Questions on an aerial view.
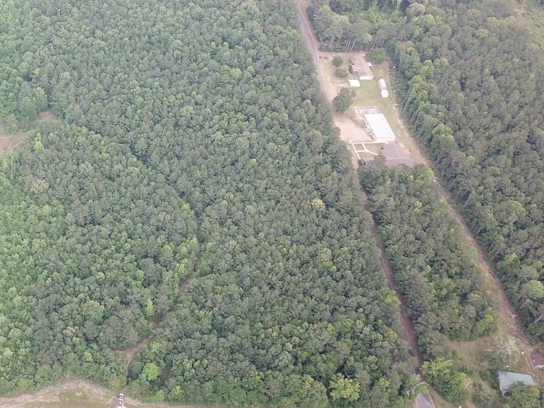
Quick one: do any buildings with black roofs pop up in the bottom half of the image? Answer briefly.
No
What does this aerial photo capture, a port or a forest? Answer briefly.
forest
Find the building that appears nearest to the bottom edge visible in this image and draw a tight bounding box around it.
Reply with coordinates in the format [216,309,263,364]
[494,373,536,392]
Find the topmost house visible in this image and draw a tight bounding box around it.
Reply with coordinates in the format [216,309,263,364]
[348,55,374,81]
